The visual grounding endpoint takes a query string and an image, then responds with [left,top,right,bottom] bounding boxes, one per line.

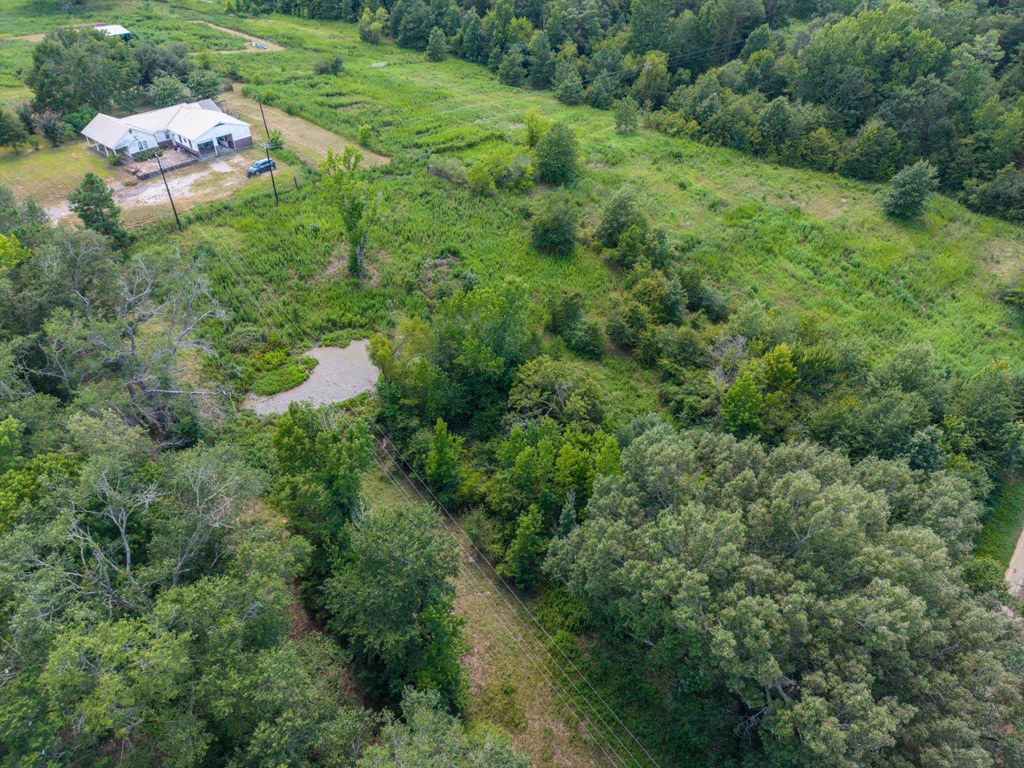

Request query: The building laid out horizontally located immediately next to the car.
[80,96,254,166]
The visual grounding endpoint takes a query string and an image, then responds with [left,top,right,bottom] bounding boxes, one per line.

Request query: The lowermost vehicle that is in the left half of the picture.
[246,155,281,176]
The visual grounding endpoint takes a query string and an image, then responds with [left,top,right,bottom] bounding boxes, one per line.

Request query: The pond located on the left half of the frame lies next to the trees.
[247,342,377,415]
